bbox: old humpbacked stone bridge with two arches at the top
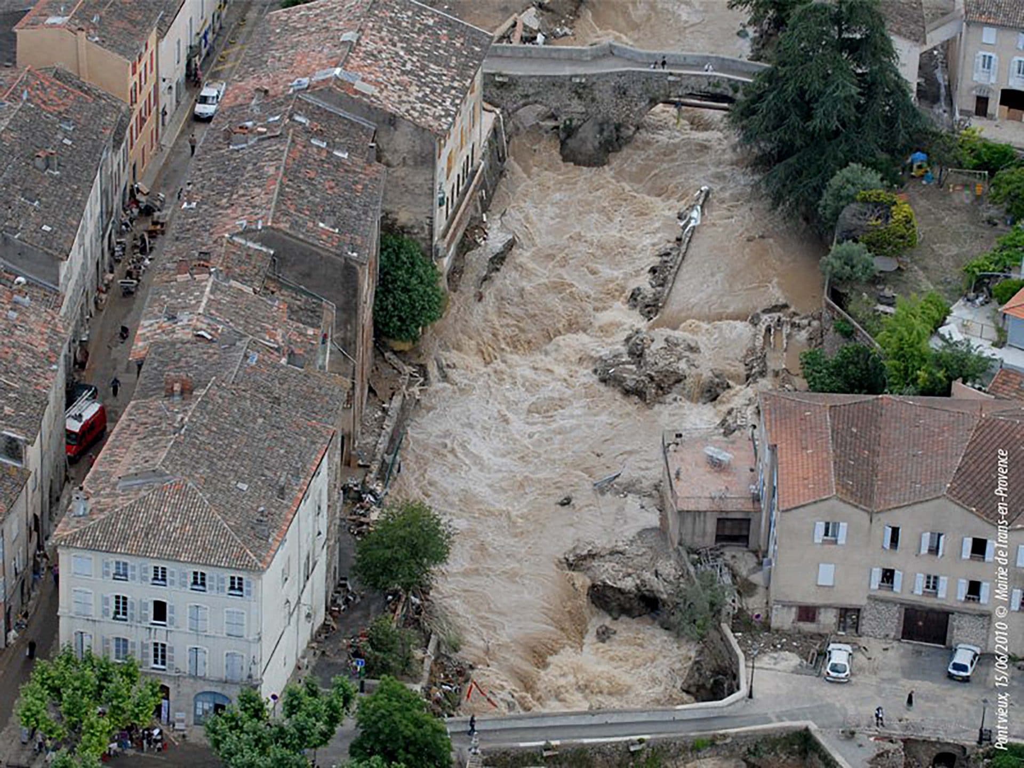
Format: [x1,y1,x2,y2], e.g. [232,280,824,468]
[489,38,791,141]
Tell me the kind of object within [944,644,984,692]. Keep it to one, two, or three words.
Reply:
car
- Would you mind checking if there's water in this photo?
Yes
